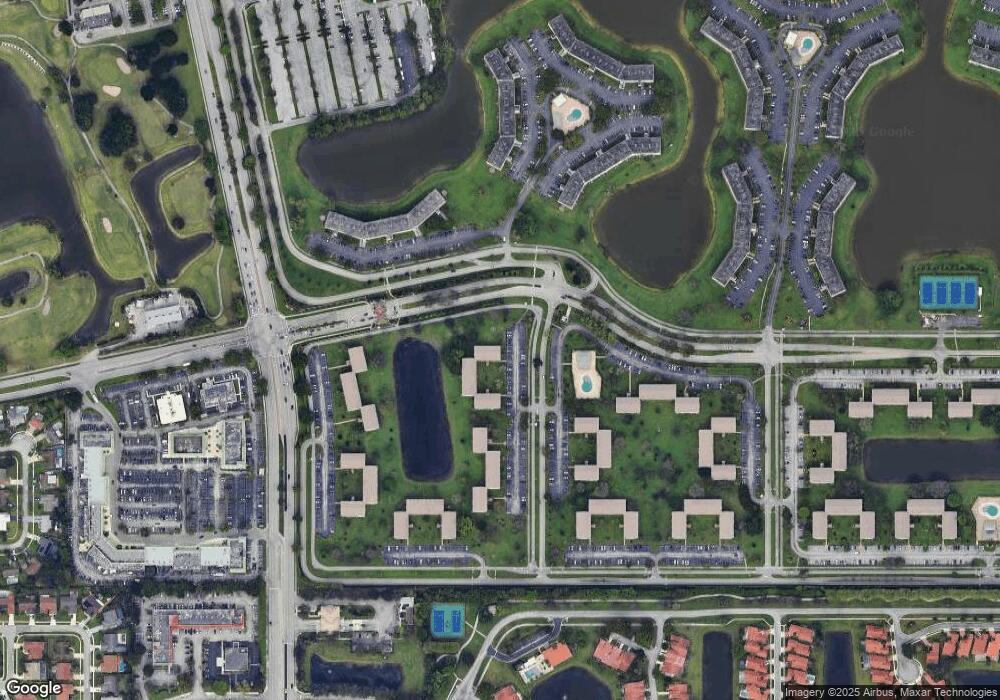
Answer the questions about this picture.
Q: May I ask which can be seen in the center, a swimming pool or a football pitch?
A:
swimming pool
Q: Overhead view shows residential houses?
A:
Yes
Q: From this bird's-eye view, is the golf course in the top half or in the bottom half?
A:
top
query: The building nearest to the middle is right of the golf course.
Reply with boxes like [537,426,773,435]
[462,346,501,409]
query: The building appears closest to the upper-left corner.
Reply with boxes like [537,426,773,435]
[80,4,112,29]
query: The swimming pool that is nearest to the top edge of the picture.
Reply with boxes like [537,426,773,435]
[784,30,821,69]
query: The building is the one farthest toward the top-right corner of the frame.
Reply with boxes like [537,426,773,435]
[970,42,1000,70]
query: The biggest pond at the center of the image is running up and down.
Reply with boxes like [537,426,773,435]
[395,339,452,479]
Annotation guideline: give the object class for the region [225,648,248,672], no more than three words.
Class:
building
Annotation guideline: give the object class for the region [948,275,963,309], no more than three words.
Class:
tennis court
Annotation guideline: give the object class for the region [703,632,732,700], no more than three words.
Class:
pond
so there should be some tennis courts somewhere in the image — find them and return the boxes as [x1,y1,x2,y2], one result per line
[450,603,466,638]
[963,275,978,309]
[948,275,963,309]
[920,275,935,309]
[431,603,450,638]
[935,275,948,309]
